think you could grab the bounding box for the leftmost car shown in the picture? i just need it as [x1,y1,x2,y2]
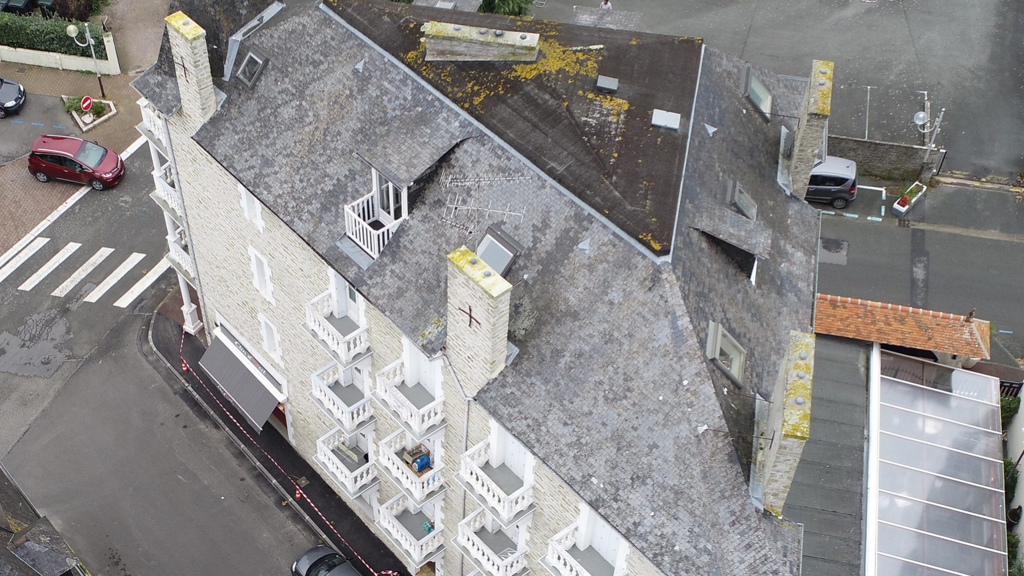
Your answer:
[0,76,29,117]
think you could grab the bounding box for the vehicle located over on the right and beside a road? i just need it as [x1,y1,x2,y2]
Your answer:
[808,154,859,208]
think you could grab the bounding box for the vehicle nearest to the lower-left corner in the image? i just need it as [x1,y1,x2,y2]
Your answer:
[286,539,365,576]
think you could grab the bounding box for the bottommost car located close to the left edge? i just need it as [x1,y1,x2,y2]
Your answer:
[21,129,126,189]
